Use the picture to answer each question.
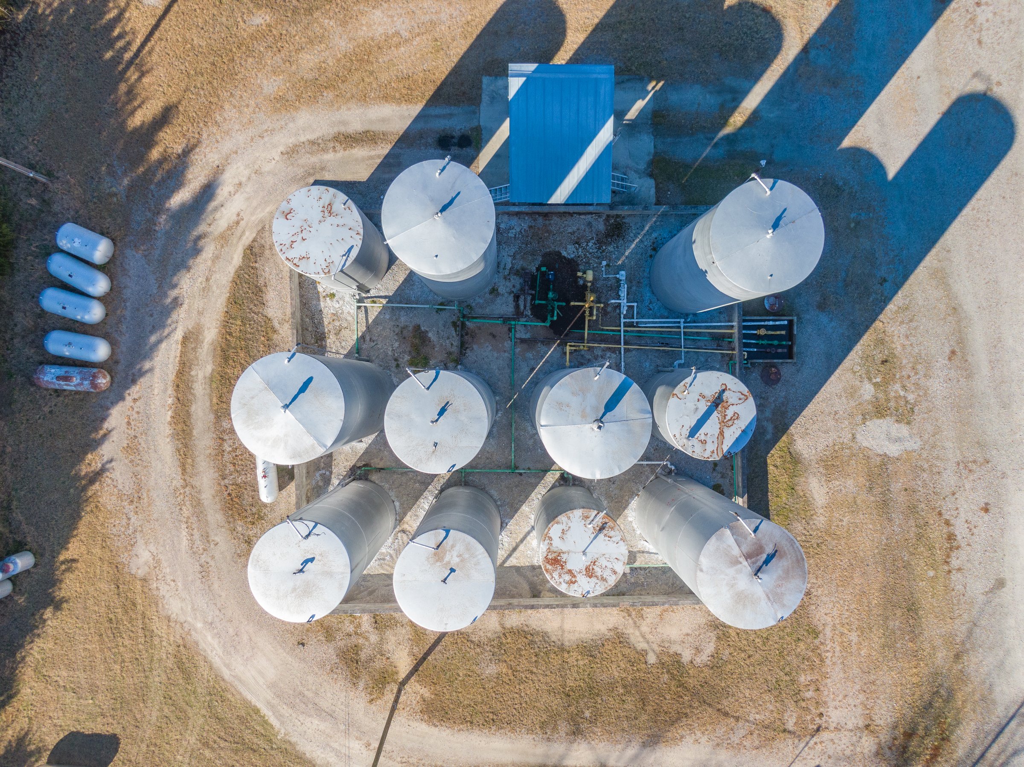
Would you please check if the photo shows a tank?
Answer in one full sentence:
Yes, there's a tank down there.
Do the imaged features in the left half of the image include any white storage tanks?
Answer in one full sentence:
Yes, looking in the left half of the image, one can make out a white storage tank.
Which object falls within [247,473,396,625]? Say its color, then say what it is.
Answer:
white storage tank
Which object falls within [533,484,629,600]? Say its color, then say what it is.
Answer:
white storage tank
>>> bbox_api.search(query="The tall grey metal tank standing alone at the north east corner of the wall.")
[649,170,825,317]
